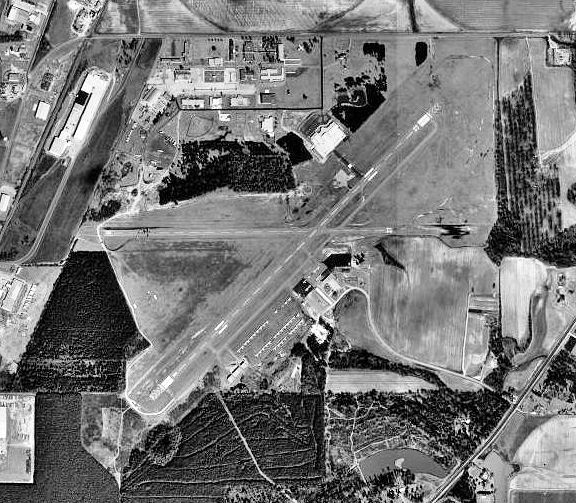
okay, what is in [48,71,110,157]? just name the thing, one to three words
building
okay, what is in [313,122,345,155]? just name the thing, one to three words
hangar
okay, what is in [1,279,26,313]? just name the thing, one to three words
building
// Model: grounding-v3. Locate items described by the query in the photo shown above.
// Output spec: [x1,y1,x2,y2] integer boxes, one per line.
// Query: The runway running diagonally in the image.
[145,100,443,406]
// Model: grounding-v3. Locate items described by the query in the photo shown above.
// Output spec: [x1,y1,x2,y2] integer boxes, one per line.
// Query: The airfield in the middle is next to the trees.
[97,37,497,426]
